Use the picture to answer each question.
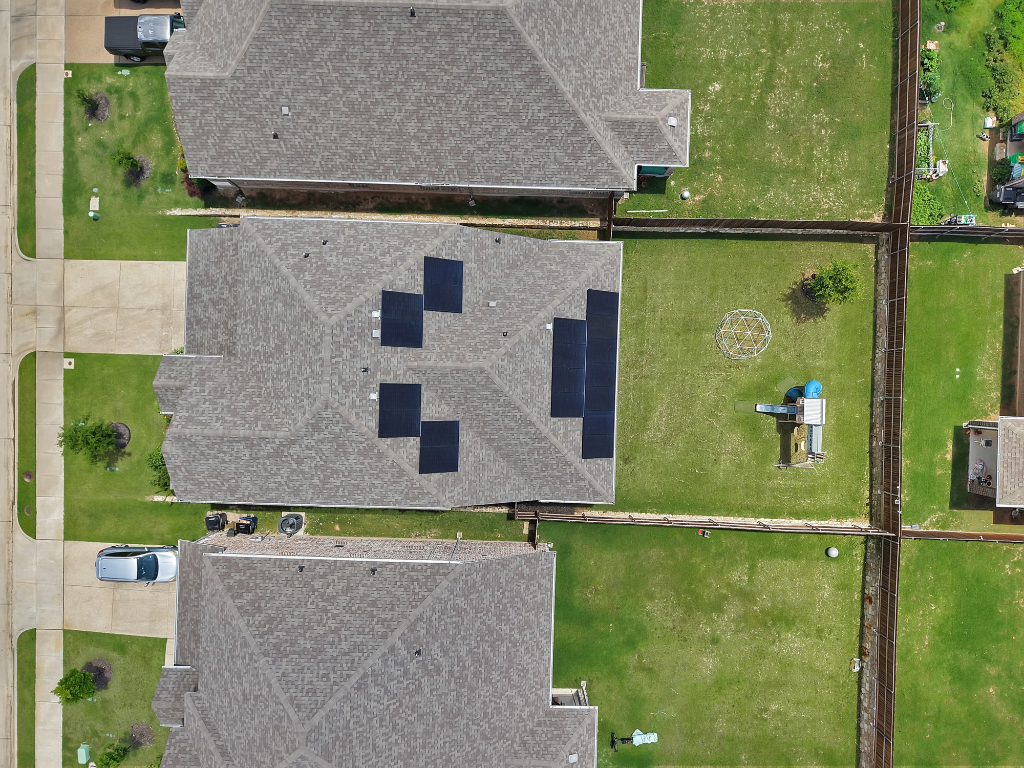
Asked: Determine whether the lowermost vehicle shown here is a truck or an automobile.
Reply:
automobile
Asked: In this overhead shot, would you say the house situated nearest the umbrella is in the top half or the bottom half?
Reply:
bottom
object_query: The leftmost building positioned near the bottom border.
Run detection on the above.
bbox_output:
[152,528,601,768]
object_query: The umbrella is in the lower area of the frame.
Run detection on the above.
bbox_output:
[610,728,659,751]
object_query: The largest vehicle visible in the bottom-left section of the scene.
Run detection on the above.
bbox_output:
[93,541,174,590]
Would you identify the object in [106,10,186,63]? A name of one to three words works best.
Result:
truck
